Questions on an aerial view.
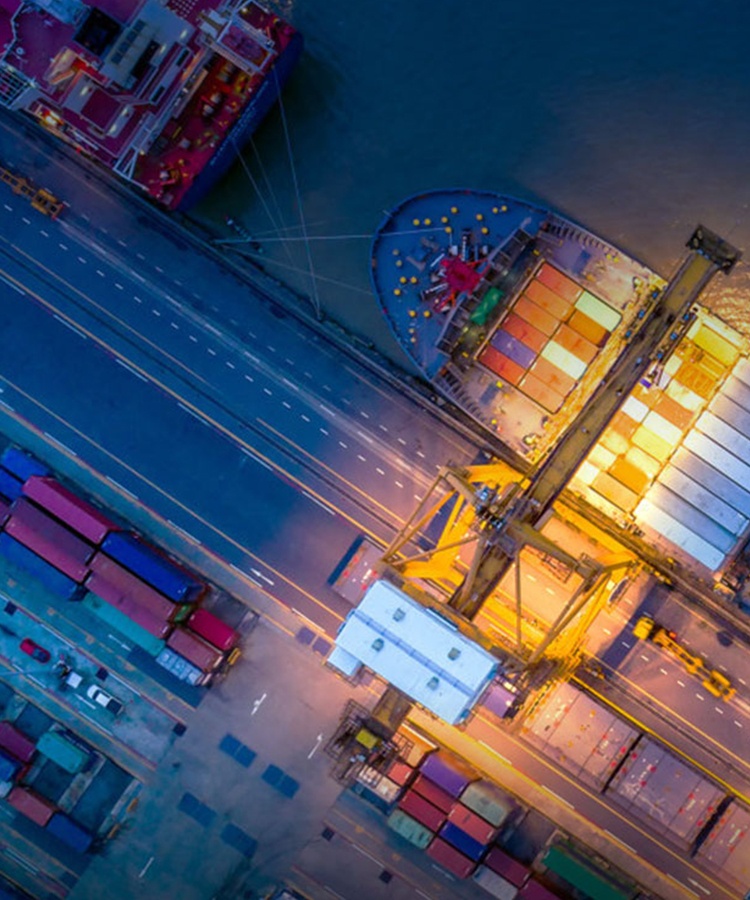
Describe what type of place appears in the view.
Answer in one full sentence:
What you see here is a port.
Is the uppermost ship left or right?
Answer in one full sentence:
You can find the uppermost ship on the left side of the picture.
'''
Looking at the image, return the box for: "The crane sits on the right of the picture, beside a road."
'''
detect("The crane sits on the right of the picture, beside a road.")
[305,215,746,788]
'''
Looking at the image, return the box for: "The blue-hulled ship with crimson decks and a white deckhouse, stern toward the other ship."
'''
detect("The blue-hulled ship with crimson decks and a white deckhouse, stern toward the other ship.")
[0,0,296,202]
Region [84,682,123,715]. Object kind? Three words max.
truck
